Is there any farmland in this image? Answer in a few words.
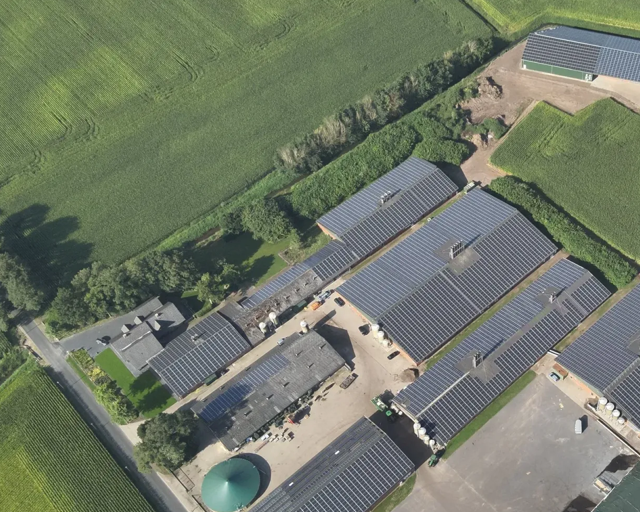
Yes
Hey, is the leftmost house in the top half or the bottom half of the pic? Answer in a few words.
bottom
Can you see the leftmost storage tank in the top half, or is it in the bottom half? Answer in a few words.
bottom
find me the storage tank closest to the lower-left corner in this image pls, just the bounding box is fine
[200,458,262,512]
